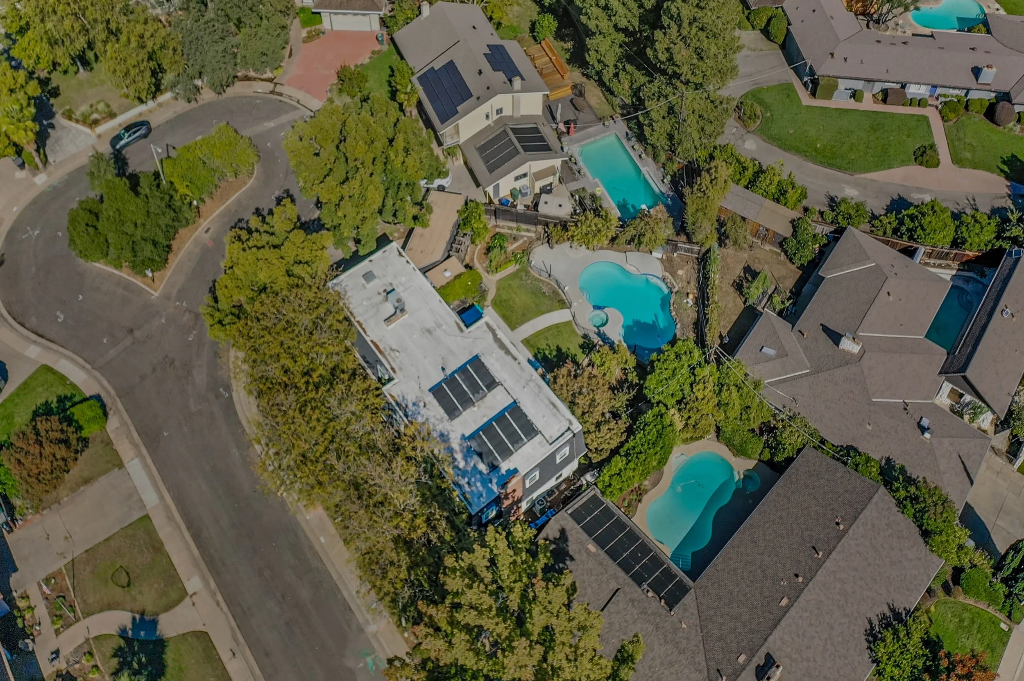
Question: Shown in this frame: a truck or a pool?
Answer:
pool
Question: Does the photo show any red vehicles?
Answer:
No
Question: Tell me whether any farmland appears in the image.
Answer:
No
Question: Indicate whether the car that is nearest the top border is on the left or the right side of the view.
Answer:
left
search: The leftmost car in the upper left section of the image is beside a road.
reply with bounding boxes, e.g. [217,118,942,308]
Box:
[107,121,155,152]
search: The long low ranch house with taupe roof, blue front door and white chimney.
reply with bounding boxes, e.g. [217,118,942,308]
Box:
[777,0,1024,120]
